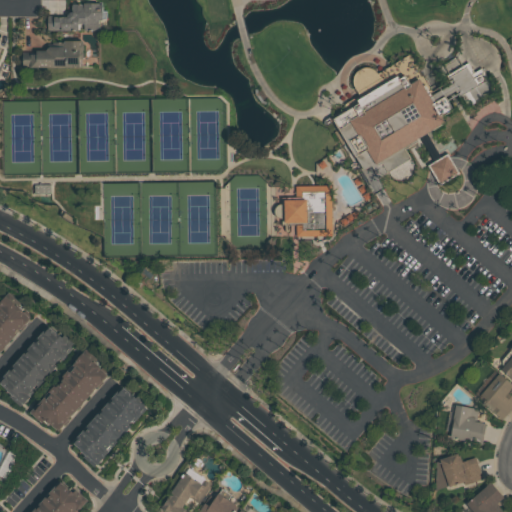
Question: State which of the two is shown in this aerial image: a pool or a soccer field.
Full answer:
This aerial view contains a pool.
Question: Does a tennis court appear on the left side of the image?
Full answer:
Yes, a tennis court shows up on the left side of the image.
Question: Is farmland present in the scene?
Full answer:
No, the picture contains no farmland.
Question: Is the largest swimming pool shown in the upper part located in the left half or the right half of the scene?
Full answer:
The largest swimming pool shown in the upper part sits on the right side.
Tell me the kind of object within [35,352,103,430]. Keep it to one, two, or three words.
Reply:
building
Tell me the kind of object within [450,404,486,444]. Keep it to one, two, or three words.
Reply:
house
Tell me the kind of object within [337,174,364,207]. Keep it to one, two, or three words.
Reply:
swimming pool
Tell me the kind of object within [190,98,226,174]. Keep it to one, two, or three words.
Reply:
tennis court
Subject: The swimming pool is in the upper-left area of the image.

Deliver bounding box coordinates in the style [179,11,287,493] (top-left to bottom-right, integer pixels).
[82,34,98,50]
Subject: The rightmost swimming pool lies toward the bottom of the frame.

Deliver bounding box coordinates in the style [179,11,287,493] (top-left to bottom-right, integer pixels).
[452,388,474,406]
